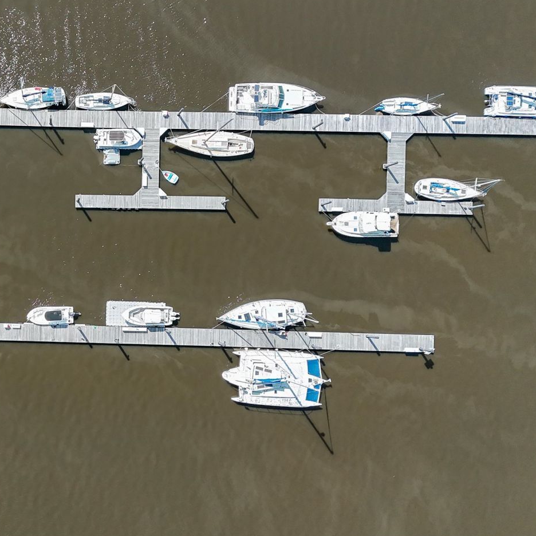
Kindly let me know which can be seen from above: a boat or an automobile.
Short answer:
boat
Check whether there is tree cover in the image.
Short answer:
No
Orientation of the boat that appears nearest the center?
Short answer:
horizontally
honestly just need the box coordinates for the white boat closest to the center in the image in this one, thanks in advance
[217,299,321,331]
